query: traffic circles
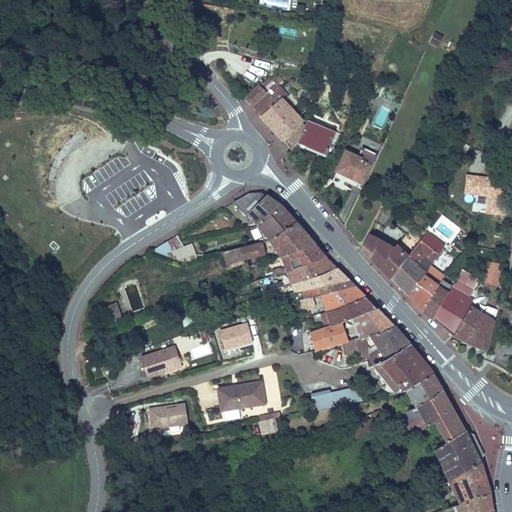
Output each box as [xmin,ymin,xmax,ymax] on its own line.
[200,120,280,196]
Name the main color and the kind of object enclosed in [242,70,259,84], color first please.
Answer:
white vehicle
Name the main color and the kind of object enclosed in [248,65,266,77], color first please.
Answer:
white vehicle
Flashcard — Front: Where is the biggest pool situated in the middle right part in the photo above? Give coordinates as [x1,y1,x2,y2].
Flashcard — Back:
[432,215,461,244]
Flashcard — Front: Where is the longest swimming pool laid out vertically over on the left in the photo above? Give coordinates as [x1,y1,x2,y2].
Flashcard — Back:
[125,280,144,312]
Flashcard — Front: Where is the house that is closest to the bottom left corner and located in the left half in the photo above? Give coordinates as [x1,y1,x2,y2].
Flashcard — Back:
[150,402,188,435]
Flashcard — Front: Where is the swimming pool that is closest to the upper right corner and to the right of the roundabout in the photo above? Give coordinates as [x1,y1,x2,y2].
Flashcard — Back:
[374,106,391,128]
